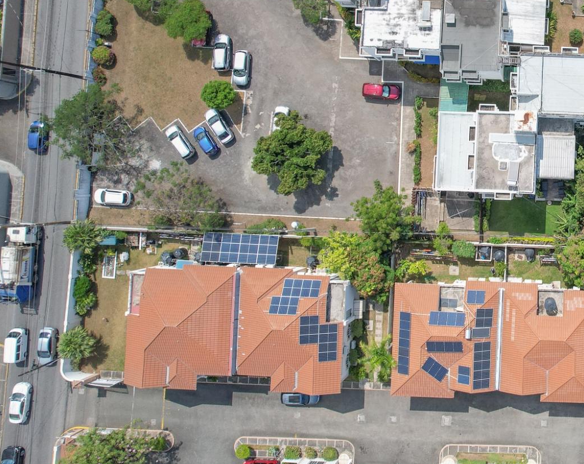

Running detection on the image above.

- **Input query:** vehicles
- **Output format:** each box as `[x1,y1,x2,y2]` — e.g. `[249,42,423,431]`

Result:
[10,381,34,423]
[36,326,60,366]
[96,190,131,207]
[2,325,29,367]
[363,82,402,101]
[204,109,236,146]
[164,123,197,161]
[2,442,25,464]
[28,120,50,154]
[282,390,321,410]
[193,125,222,158]
[243,457,282,464]
[232,52,251,85]
[1,229,41,312]
[273,105,289,120]
[213,36,233,70]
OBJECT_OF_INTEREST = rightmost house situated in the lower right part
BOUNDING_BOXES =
[496,277,584,403]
